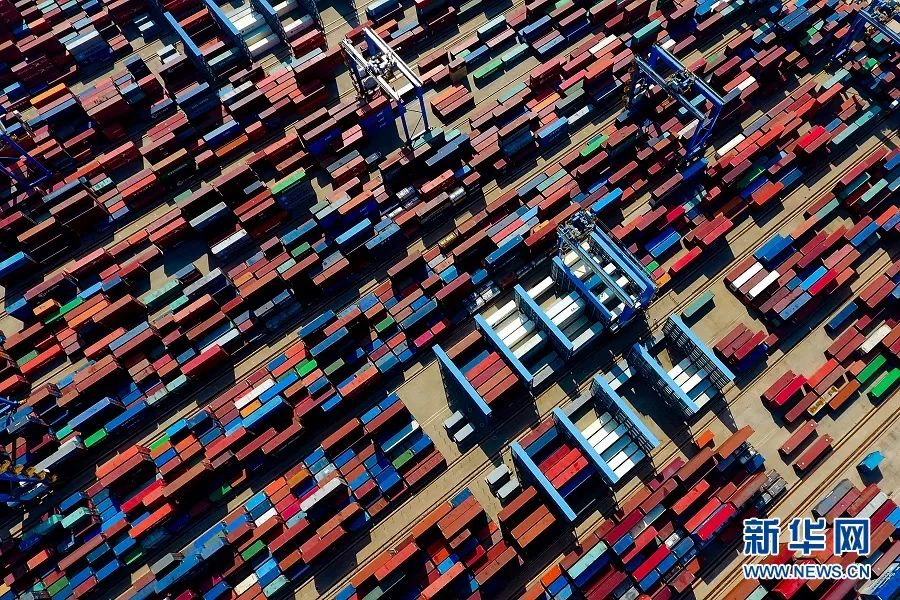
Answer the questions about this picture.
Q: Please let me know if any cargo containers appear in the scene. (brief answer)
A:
Yes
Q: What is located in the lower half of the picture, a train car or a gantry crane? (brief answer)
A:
gantry crane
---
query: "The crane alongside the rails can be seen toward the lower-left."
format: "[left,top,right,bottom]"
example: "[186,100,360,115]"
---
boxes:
[0,441,62,517]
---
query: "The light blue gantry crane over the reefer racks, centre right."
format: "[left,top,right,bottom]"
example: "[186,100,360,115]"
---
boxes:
[550,205,662,332]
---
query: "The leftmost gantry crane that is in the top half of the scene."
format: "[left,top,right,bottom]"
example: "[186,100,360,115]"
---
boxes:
[0,100,56,192]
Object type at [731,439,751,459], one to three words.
vehicle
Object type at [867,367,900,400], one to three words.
shipping container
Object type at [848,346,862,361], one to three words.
vehicle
